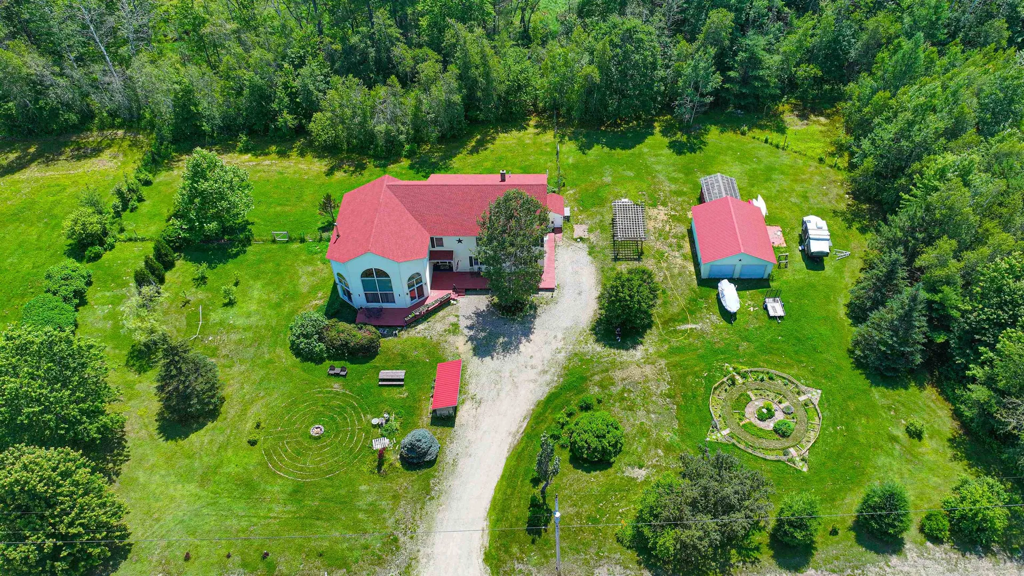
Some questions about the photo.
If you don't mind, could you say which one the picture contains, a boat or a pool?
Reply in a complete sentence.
Visible in the photo is a boat.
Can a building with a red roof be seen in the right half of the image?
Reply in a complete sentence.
Yes, there is a building with a red roof in the right half of the image.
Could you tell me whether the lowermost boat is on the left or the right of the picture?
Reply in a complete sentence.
It is on the right.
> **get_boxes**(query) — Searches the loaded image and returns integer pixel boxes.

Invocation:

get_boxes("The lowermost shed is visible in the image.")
[433,359,462,416]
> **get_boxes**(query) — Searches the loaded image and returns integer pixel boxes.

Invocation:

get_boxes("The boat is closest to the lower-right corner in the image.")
[714,275,740,322]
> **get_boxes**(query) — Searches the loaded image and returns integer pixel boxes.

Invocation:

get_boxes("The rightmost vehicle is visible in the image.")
[803,211,834,265]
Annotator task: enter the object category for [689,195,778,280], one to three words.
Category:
building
